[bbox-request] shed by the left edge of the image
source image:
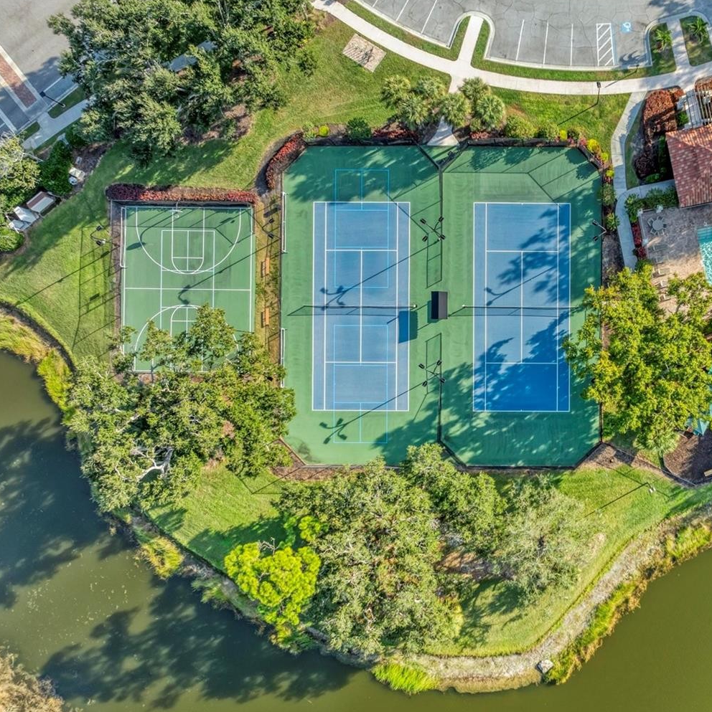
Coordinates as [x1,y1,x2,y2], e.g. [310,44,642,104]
[22,191,53,212]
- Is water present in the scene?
Yes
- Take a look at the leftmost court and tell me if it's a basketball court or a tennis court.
basketball court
